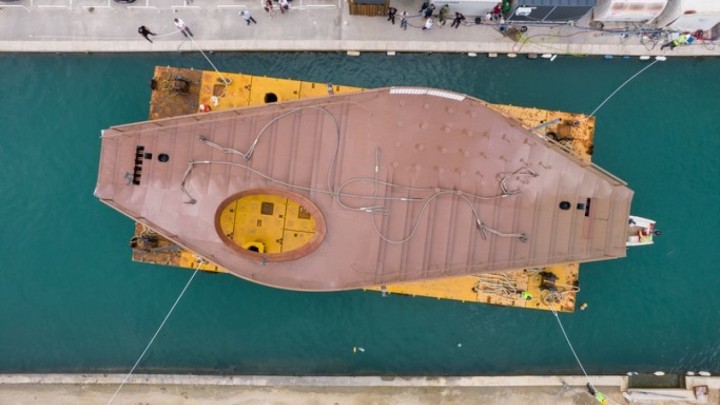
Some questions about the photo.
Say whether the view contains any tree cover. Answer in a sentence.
No, no tree cover is visible.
